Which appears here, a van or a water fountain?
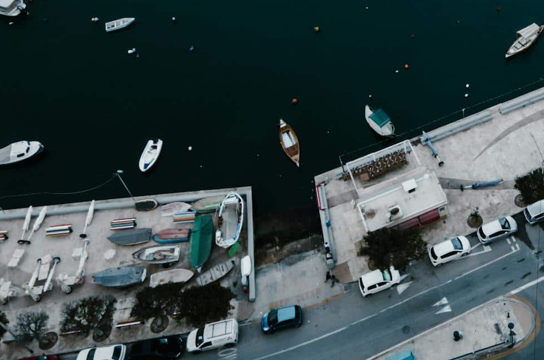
van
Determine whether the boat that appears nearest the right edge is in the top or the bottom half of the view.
top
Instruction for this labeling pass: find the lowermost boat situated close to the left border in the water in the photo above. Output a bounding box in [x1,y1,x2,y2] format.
[0,141,43,165]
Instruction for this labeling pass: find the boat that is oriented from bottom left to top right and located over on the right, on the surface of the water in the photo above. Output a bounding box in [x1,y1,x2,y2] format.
[506,20,544,57]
